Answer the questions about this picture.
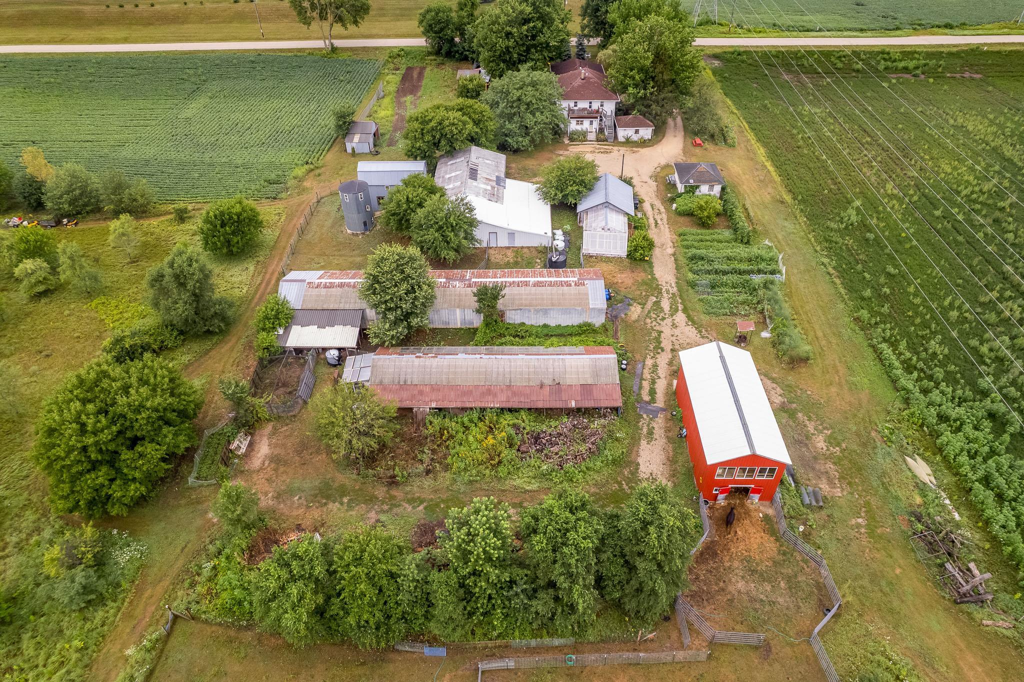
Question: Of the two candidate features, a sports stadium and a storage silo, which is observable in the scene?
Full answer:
I can see a storage silo in this picture.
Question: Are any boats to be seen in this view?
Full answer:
Yes, there's a boat down there.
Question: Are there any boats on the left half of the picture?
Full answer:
No, no boat is visible on the left half of the picture.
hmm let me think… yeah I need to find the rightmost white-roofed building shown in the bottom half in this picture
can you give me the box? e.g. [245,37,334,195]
[675,340,790,506]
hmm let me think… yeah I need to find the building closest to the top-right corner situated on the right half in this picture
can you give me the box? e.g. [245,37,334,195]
[670,161,726,199]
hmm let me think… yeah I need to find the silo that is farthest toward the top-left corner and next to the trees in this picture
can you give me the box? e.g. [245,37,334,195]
[339,178,377,234]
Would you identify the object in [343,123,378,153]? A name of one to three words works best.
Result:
shed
